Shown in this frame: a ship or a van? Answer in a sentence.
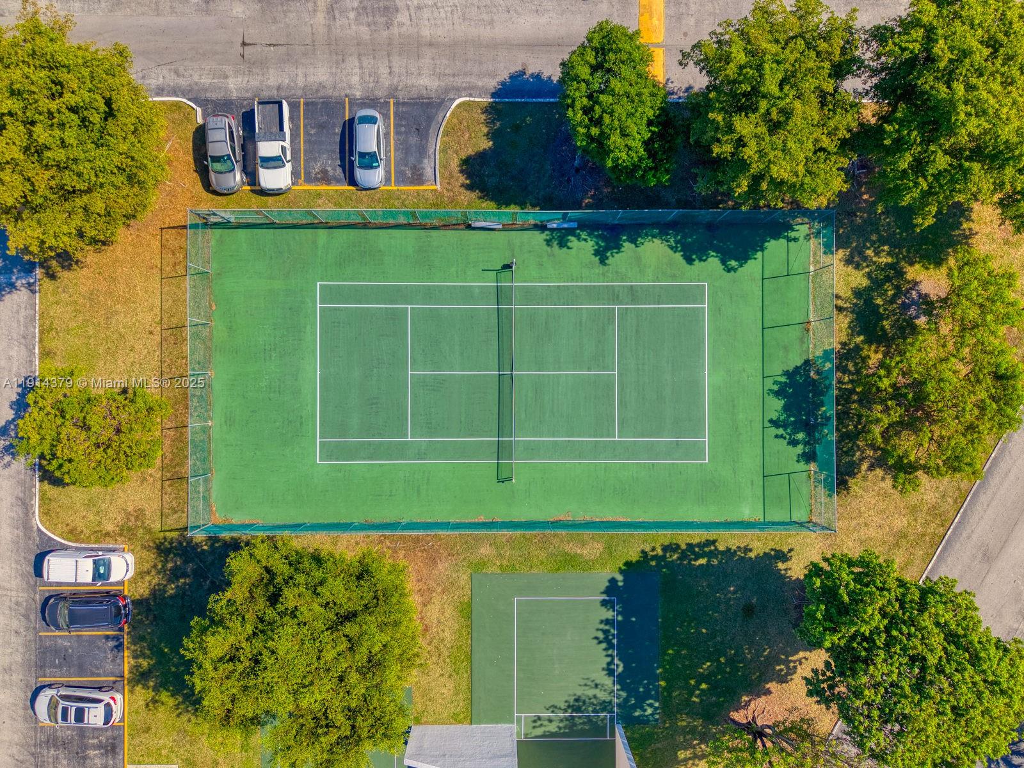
Of the two, only a van appears.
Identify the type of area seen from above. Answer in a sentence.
The picture captures a sports ground.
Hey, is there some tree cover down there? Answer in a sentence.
Yes, some tree cover is visible.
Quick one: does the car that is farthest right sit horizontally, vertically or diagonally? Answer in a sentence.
In this picture, the car that is farthest right is oriented vertically.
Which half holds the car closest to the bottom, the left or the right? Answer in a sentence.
It is on the left.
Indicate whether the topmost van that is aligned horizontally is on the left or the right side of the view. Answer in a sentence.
The topmost van that is aligned horizontally sits on the left side.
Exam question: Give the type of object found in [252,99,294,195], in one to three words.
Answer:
truck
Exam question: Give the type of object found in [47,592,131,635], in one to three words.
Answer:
car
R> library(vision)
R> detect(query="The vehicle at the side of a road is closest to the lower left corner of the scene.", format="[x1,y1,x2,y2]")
[36,683,123,728]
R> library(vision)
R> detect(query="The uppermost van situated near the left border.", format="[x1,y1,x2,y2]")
[39,549,137,589]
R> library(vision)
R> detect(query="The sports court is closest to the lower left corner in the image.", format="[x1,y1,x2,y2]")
[260,688,412,768]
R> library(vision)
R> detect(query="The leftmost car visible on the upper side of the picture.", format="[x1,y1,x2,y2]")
[205,115,247,193]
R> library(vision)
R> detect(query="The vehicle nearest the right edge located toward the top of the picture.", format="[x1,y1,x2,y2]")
[349,110,386,190]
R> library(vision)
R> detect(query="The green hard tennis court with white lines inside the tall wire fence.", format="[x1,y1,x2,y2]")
[212,225,811,522]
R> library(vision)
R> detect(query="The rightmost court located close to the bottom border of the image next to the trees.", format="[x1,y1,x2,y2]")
[472,573,659,768]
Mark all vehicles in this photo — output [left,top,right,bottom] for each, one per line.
[39,549,137,589]
[205,115,247,193]
[349,110,386,190]
[252,99,294,195]
[47,592,131,635]
[36,683,123,728]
